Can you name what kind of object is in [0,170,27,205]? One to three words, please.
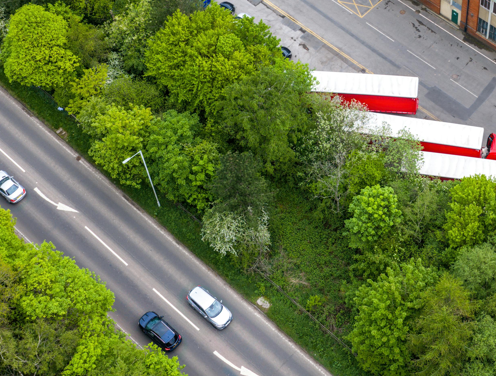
car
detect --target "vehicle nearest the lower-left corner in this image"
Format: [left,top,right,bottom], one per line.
[139,311,181,352]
